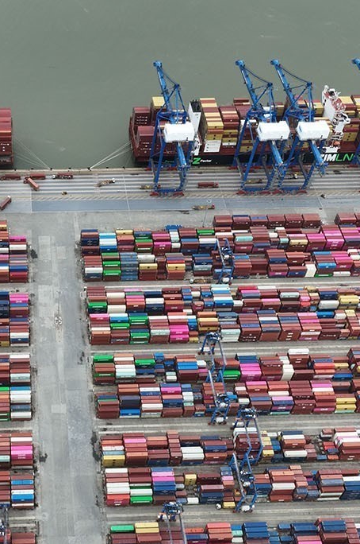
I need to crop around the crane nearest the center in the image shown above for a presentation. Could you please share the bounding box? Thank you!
[214,238,238,284]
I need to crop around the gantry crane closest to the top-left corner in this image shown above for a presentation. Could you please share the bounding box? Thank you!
[147,63,197,195]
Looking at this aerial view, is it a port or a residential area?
port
